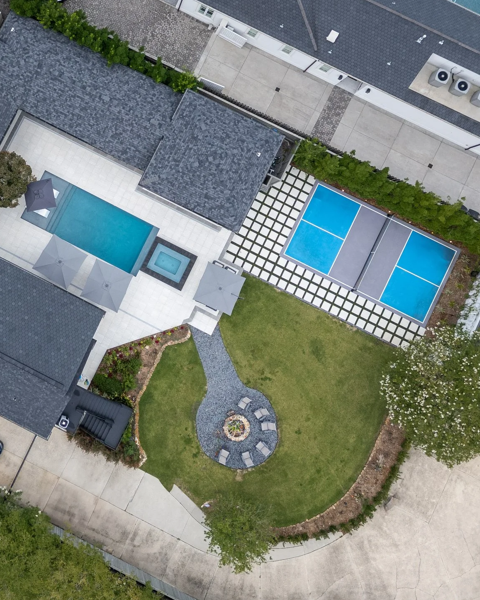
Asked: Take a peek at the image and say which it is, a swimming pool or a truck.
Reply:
swimming pool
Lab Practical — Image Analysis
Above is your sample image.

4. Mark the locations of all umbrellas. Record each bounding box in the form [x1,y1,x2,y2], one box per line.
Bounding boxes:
[26,178,57,213]
[193,261,246,315]
[32,234,87,290]
[81,259,134,312]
